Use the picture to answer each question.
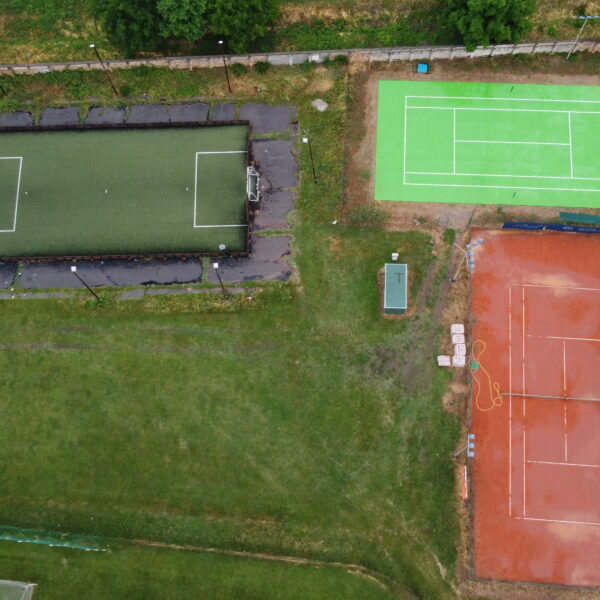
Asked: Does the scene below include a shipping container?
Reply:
Yes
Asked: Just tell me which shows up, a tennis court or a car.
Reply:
tennis court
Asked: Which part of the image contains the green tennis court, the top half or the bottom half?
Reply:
top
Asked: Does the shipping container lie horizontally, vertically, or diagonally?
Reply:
vertically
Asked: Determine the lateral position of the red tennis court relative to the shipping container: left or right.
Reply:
right of it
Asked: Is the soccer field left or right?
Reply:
left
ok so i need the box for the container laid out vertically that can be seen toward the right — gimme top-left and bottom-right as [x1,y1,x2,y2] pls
[383,264,408,313]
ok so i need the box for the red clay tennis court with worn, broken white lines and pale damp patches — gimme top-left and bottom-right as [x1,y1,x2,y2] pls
[472,234,600,594]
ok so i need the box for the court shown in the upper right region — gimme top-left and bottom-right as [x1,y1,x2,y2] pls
[374,80,600,209]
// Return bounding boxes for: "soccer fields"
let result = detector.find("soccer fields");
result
[0,125,258,255]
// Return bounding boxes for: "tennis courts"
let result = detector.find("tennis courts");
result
[472,234,600,594]
[374,80,600,209]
